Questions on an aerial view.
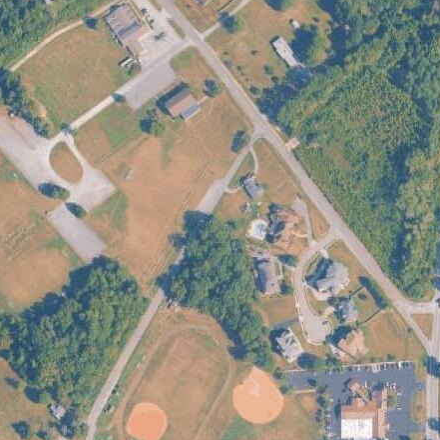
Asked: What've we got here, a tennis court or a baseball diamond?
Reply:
baseball diamond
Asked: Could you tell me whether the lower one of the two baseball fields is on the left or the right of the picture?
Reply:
left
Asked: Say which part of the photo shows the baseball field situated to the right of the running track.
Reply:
bottom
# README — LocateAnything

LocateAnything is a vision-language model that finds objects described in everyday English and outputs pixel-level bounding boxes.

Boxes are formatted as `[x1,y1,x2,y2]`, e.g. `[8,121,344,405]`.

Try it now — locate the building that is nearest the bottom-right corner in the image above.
[340,377,388,440]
